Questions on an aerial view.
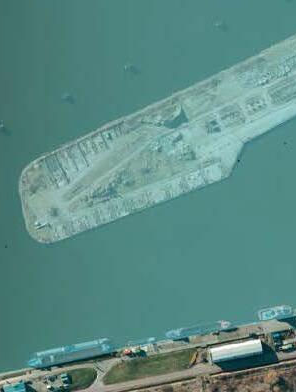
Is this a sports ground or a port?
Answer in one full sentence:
The area seen from above is a port.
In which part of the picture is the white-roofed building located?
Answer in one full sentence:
The white-roofed building is in the bottom right part of the image.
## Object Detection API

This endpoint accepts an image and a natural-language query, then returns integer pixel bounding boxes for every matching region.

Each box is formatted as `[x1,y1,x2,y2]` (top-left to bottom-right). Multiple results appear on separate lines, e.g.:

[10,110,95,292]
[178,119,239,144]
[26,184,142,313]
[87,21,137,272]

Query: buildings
[210,340,263,363]
[2,382,26,392]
